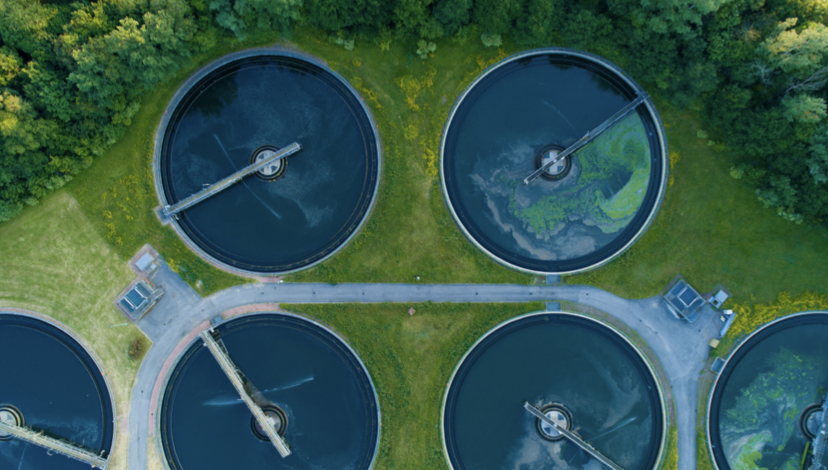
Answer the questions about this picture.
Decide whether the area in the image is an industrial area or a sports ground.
industrial area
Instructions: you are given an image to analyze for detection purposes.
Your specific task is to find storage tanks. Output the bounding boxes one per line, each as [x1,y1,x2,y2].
[440,308,669,470]
[0,308,120,470]
[703,308,828,470]
[440,47,669,276]
[154,308,383,470]
[154,47,383,276]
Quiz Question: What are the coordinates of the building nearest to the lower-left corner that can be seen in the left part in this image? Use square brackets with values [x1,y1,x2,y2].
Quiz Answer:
[117,282,163,319]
